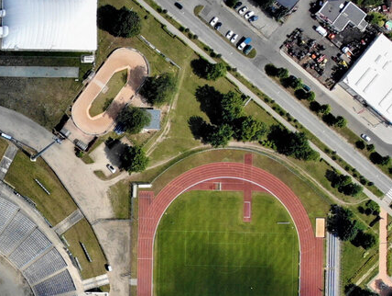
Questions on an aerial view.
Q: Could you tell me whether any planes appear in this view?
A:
No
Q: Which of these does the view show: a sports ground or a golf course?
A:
sports ground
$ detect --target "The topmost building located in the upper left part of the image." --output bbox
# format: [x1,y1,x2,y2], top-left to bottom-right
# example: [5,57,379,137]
[0,0,101,55]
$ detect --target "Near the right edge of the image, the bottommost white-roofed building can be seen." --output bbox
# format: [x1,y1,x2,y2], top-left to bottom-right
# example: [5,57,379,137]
[331,33,392,133]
